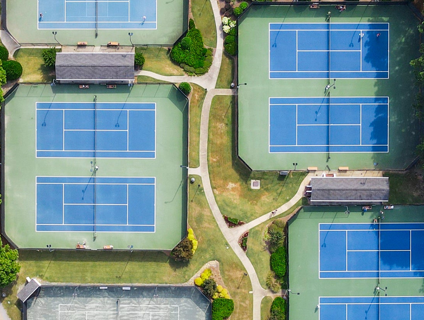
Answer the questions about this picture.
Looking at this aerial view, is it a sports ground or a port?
sports ground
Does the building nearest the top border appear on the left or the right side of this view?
left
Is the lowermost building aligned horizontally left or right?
right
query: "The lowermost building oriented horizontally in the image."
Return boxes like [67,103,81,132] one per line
[308,171,390,203]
